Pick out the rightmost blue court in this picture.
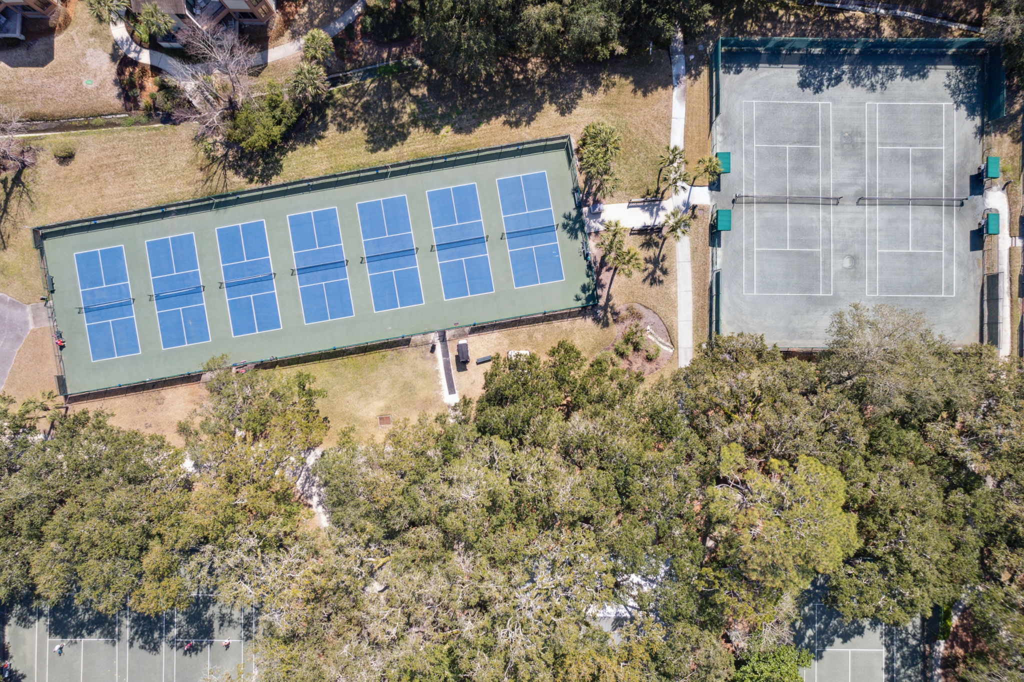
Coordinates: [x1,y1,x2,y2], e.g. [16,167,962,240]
[498,172,564,287]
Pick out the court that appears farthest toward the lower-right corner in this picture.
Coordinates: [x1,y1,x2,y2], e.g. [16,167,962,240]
[794,564,923,682]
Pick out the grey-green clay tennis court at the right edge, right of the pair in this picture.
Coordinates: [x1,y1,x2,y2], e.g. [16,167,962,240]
[849,53,984,347]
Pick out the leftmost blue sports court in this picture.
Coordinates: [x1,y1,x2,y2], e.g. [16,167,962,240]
[74,246,141,361]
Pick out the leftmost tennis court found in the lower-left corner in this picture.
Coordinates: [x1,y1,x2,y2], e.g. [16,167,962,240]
[5,547,147,682]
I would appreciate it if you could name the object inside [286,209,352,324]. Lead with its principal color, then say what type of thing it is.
blue sports court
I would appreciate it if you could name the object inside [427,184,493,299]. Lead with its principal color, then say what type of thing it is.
blue sports court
